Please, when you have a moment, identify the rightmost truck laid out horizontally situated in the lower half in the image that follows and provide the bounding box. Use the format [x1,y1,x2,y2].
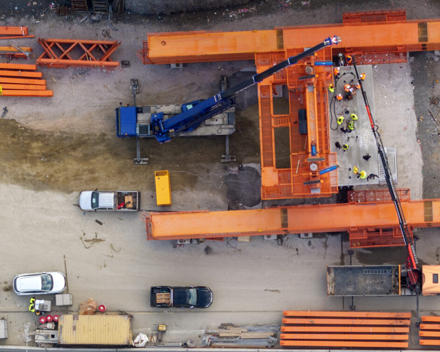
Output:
[150,283,213,310]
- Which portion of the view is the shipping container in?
bottom left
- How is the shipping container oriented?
from side to side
